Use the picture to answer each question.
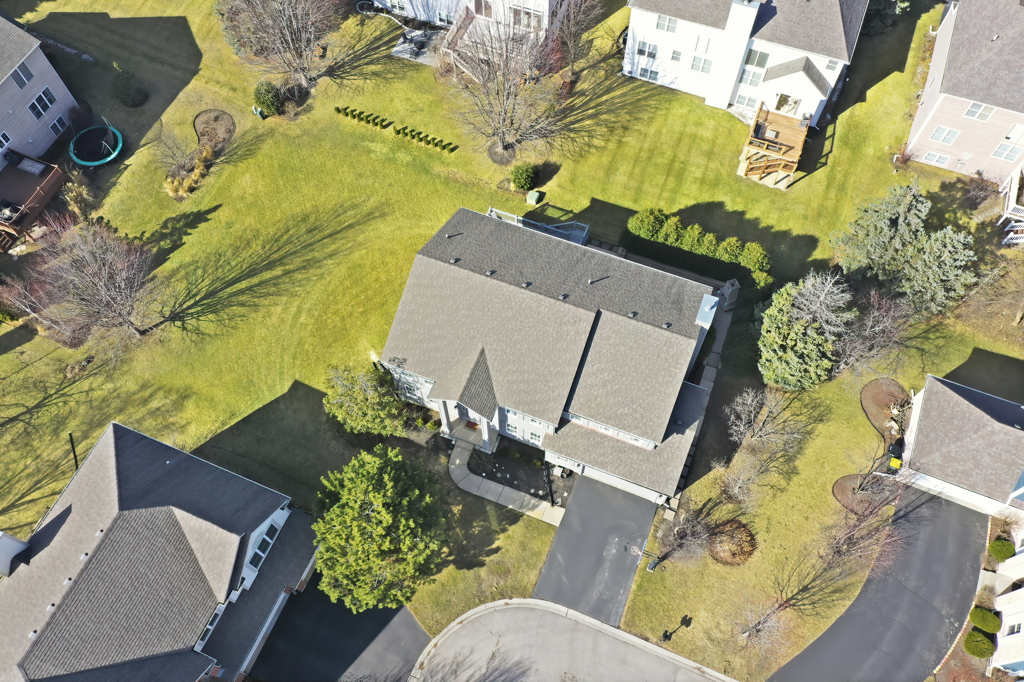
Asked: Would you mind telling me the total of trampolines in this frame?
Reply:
1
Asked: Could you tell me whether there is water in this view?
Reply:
No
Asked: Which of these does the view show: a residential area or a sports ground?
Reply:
residential area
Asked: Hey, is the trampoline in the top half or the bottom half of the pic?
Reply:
top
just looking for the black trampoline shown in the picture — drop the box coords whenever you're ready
[57,110,121,164]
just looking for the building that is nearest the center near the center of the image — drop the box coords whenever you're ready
[378,208,720,514]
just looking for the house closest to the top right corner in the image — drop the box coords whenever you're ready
[901,0,1024,182]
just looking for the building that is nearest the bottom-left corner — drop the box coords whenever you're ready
[0,420,332,682]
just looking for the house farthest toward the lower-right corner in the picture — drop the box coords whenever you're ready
[866,373,1024,682]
